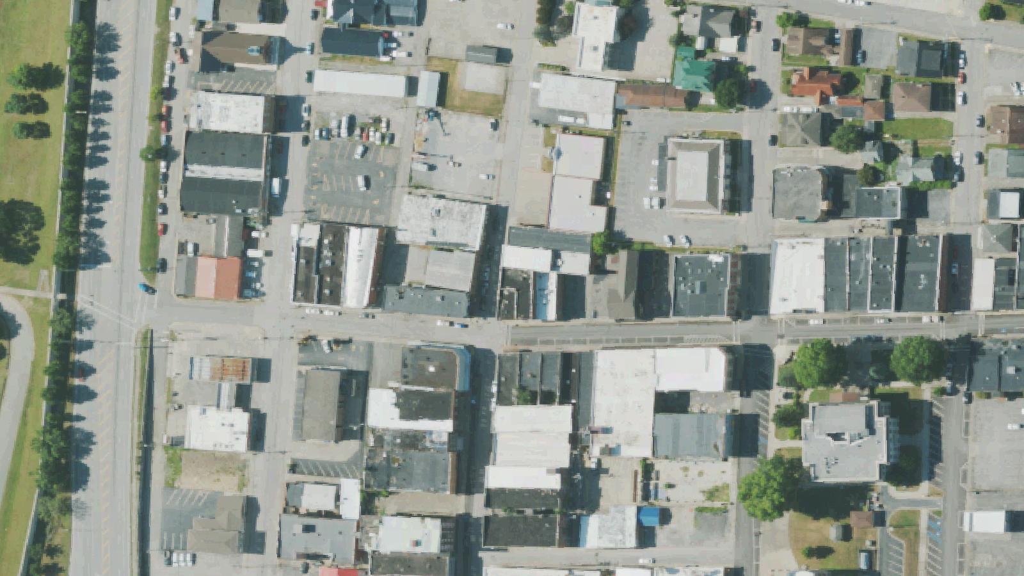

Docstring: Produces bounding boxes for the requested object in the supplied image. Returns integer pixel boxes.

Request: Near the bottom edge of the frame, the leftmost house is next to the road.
[188,496,247,554]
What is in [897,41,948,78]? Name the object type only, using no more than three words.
house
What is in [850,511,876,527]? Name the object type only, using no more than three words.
shed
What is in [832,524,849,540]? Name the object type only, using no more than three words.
gazebo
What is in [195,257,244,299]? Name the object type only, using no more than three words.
building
